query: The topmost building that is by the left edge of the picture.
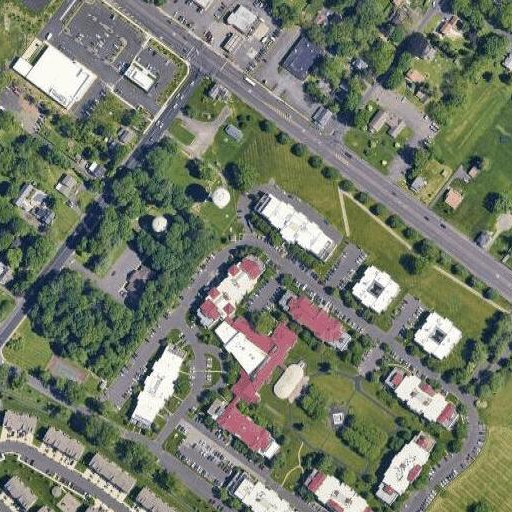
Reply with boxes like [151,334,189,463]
[13,40,97,112]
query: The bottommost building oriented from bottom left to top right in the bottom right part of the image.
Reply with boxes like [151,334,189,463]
[376,432,436,508]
